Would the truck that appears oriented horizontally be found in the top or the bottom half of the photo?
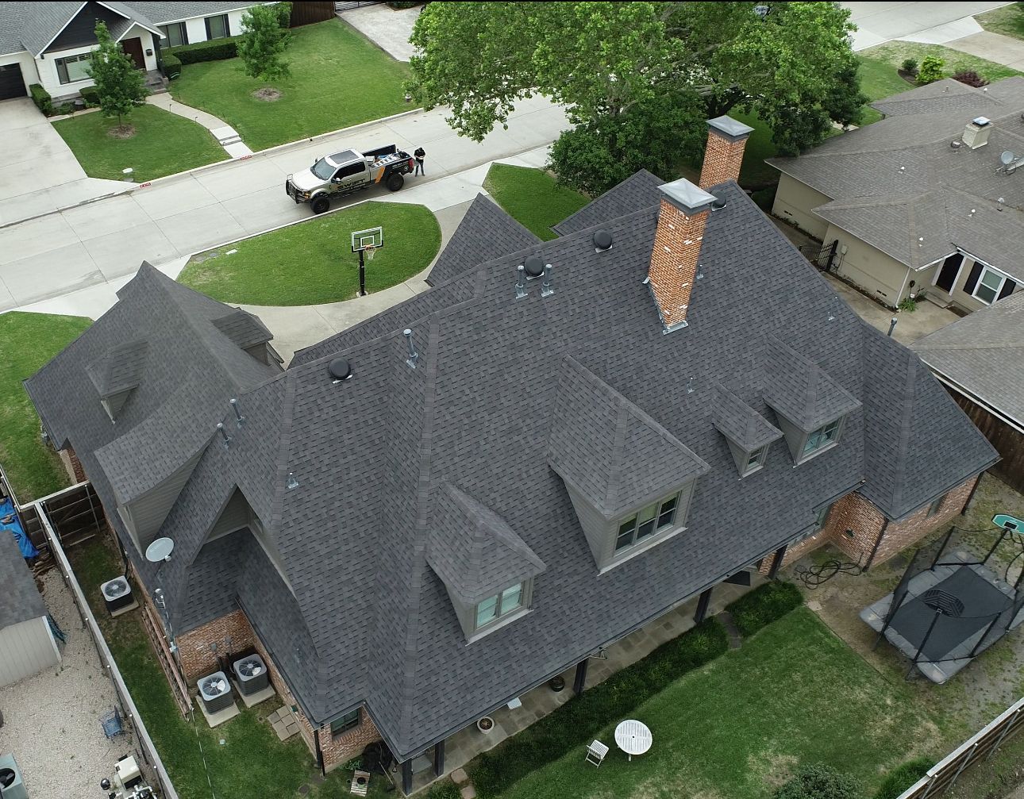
top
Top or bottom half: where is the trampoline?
bottom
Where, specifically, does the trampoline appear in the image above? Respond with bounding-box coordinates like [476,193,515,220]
[859,523,1024,687]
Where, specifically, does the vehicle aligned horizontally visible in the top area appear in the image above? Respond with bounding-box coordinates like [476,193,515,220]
[277,143,413,210]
